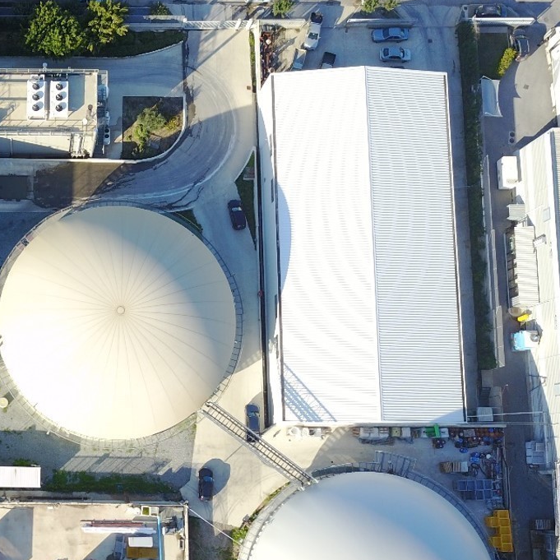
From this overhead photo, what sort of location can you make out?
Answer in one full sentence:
This looks like an industrial area.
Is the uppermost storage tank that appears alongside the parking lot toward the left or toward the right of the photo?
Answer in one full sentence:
The uppermost storage tank that appears alongside the parking lot appears in the left half of the scene.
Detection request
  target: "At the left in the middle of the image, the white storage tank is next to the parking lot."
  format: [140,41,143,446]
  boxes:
[0,199,245,454]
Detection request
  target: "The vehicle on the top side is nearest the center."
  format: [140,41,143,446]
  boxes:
[228,199,248,230]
